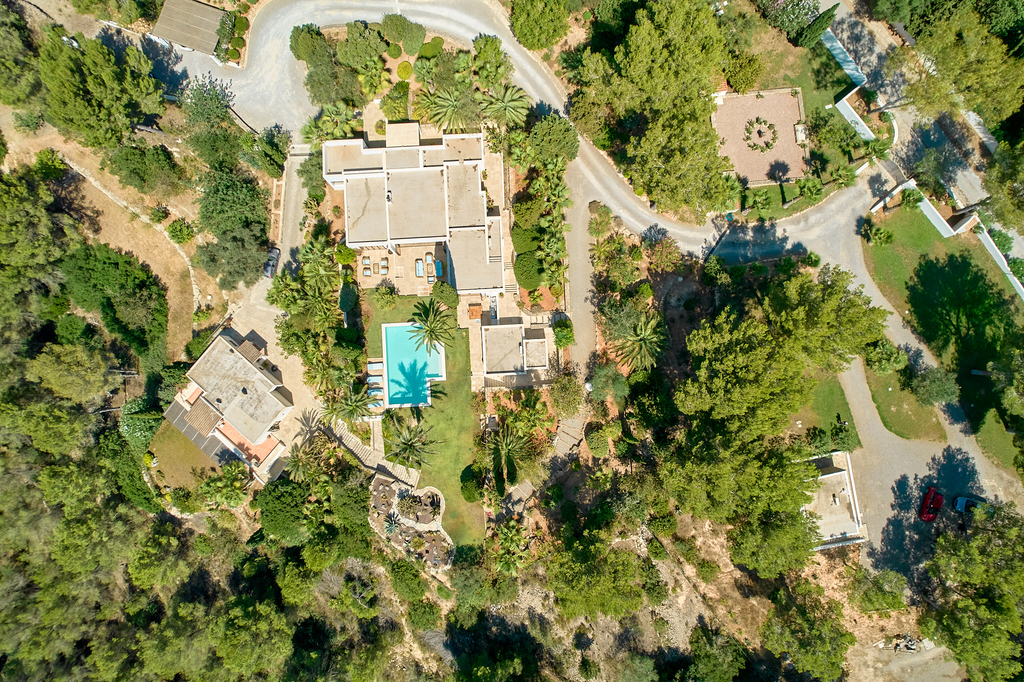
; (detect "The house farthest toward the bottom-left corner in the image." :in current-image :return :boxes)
[174,335,295,480]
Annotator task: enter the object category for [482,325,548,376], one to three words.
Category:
building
